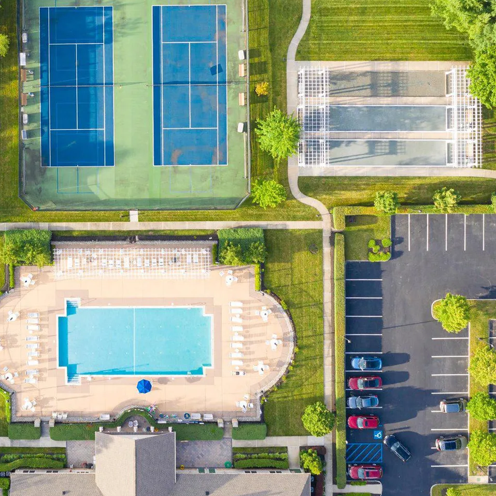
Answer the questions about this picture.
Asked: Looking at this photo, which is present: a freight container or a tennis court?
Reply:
tennis court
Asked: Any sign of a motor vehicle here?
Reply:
Yes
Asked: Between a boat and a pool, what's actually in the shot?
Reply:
pool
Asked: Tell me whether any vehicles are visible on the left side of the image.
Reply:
No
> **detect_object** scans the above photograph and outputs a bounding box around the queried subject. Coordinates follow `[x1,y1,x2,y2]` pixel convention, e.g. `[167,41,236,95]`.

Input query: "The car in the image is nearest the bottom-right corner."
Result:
[434,436,466,451]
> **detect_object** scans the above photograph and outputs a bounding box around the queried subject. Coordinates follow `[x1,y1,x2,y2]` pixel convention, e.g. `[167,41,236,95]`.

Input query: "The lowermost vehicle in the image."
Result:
[348,465,383,482]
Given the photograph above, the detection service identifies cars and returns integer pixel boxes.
[348,376,381,392]
[347,414,380,430]
[383,432,412,465]
[348,465,383,482]
[351,356,382,371]
[437,399,467,414]
[347,395,379,410]
[434,436,466,451]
